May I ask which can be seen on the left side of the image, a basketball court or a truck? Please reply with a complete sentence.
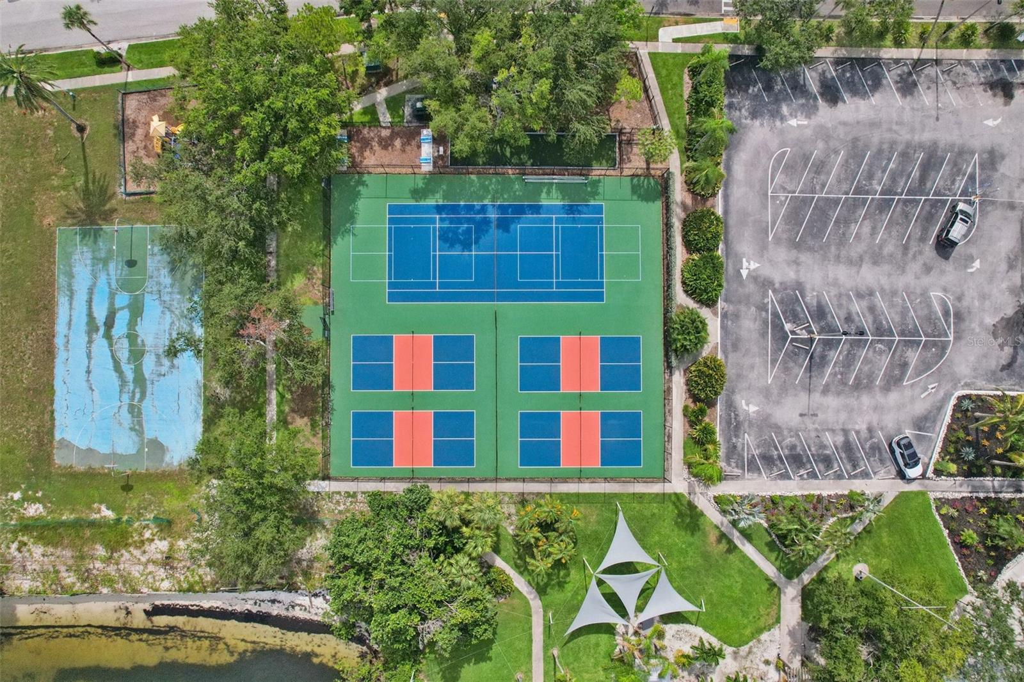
What appears on the left side of the image is a basketball court.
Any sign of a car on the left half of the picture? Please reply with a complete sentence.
No, there's no car to be seen on the left half of the picture.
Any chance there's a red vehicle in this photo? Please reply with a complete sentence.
No, the photo shows no red vehicle.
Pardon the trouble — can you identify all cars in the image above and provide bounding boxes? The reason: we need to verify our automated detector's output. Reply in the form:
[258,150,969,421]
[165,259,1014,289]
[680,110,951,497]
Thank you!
[935,204,969,251]
[889,432,921,477]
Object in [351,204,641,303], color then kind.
blue tennis court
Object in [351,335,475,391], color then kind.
blue sports court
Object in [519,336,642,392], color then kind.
blue sports court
